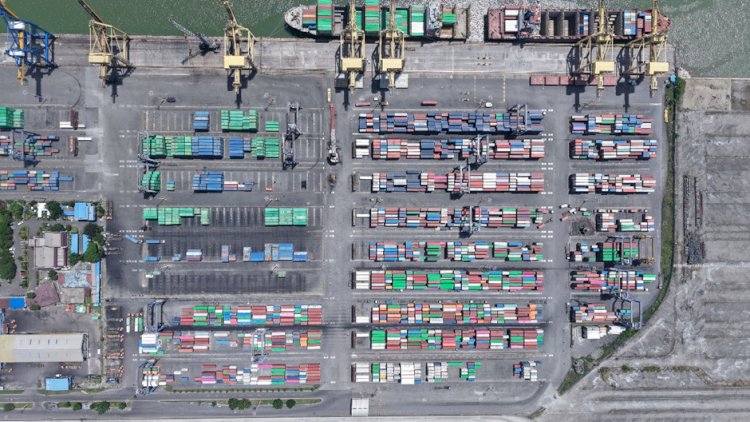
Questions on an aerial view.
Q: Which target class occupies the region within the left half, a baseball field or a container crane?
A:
container crane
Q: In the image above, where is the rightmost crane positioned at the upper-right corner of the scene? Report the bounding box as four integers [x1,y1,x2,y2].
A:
[620,0,669,98]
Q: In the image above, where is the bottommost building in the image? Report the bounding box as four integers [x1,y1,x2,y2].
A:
[351,396,368,416]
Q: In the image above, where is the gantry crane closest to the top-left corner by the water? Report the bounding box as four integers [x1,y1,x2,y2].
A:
[0,1,59,88]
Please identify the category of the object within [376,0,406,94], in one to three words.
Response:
container crane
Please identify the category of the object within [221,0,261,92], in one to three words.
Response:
container crane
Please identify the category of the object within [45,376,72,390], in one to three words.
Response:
shed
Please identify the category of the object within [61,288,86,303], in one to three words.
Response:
building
